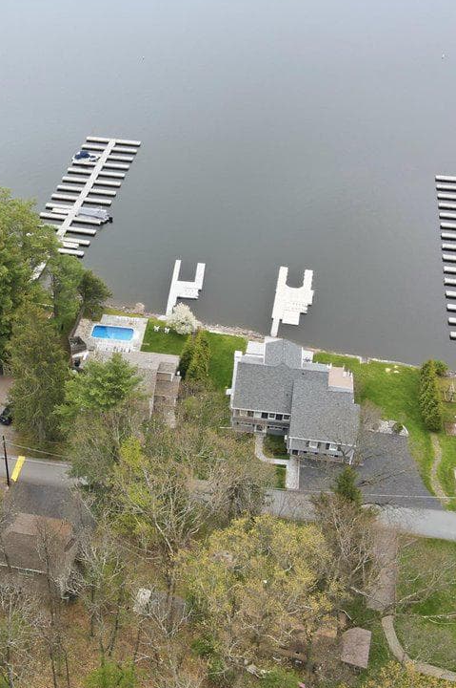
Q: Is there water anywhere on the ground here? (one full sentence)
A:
Yes, the picture does contain water.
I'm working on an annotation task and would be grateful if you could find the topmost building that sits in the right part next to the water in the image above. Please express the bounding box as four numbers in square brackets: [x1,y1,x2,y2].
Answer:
[224,336,360,460]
